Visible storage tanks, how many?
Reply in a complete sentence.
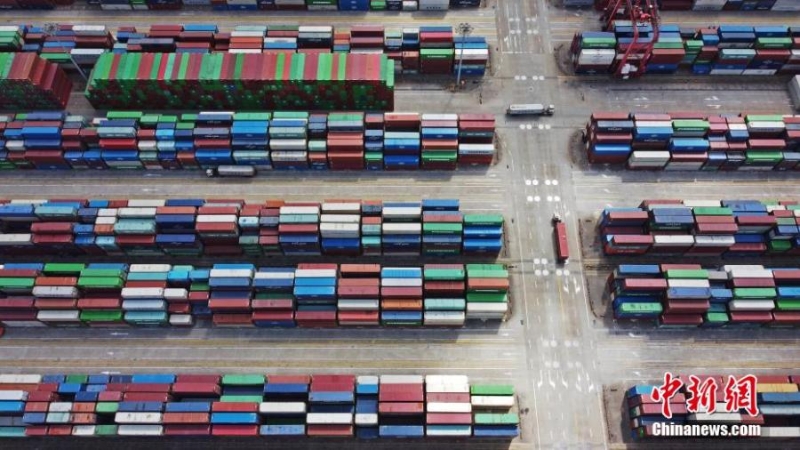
The picture shows no storage tanks.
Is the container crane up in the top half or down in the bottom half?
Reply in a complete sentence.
The container crane sits in the top half of the picture.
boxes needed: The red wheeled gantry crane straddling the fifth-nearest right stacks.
[604,0,664,82]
